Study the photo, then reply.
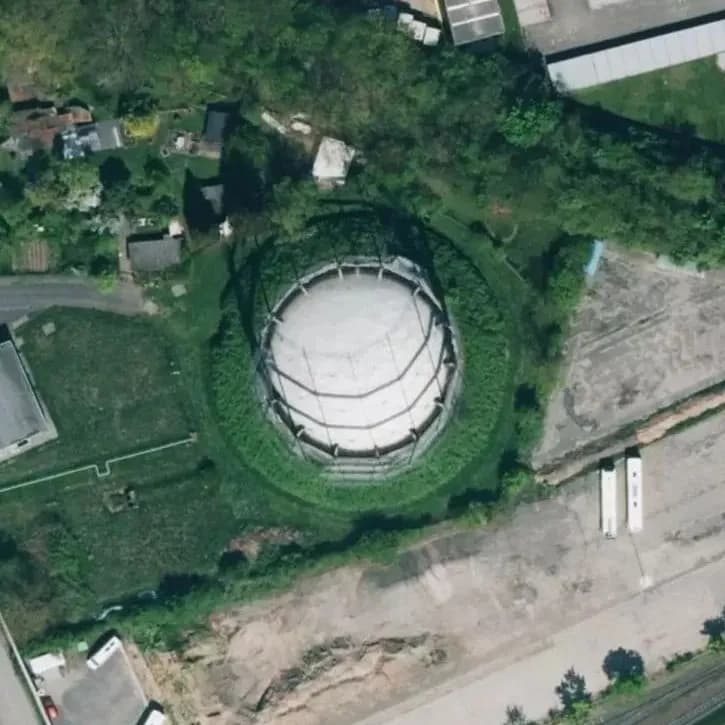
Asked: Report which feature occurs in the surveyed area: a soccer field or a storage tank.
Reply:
storage tank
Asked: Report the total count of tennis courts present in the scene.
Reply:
0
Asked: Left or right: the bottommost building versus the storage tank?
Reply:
to the left of it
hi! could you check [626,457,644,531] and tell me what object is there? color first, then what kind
white vehicle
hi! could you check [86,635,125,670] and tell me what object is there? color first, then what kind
white vehicle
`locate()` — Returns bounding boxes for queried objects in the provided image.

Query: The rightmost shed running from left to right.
[548,17,725,91]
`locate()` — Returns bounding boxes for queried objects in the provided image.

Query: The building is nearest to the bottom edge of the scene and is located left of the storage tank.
[0,338,47,437]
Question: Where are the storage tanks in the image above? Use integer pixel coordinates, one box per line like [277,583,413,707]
[249,257,467,483]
